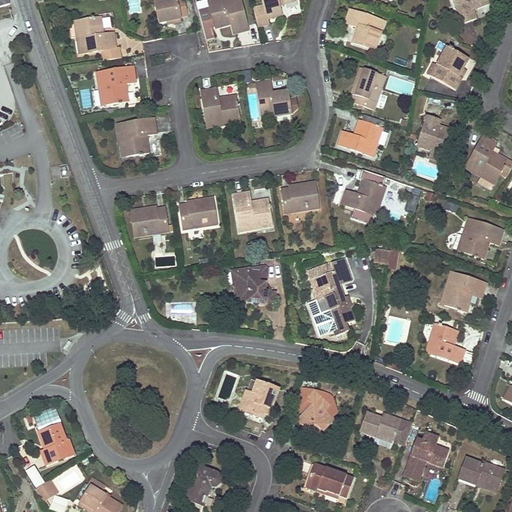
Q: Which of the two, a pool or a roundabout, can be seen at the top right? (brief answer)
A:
pool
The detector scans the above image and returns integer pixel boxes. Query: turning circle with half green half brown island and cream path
[0,212,76,298]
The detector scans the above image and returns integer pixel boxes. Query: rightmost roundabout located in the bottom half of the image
[70,328,203,473]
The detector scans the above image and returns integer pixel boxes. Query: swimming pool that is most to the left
[80,88,92,110]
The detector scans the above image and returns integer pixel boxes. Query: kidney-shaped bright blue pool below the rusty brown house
[424,478,442,504]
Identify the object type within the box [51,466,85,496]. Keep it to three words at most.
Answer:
building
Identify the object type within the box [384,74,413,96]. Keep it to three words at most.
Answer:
swimming pool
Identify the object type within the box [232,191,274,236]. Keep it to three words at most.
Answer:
house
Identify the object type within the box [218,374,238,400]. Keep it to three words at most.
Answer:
swimming pool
